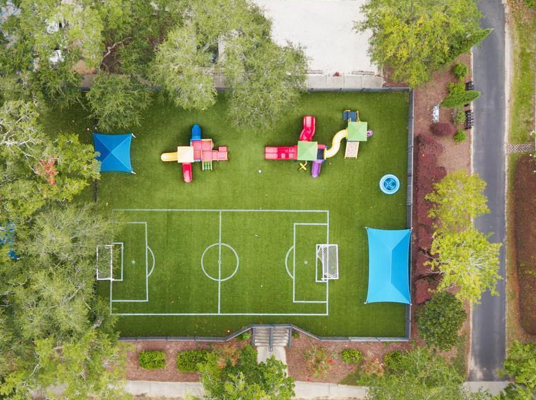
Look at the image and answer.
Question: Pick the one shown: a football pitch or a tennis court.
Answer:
football pitch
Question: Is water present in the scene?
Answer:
No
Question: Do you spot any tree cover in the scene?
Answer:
Yes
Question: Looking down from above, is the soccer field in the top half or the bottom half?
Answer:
bottom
